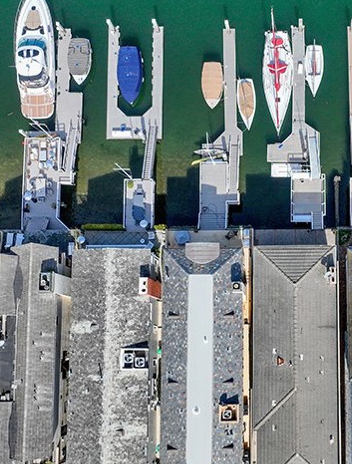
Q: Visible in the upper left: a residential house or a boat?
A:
boat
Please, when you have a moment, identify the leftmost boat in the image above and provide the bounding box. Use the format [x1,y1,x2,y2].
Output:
[0,0,60,123]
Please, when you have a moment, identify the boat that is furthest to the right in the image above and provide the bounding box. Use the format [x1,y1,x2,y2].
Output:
[302,43,323,97]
